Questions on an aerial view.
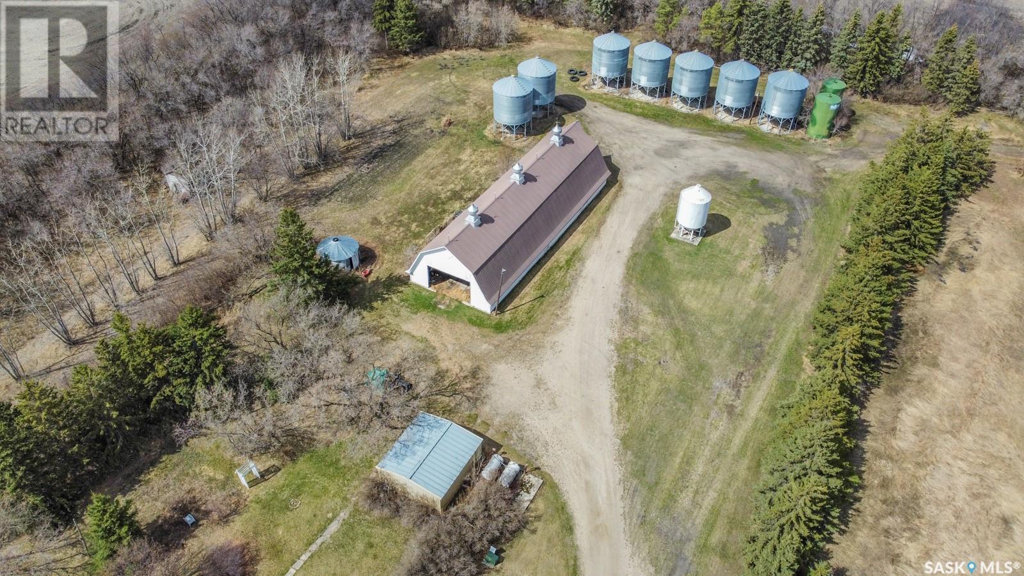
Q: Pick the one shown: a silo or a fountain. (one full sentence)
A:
The image shows a silo.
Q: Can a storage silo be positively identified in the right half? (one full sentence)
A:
Yes, a storage silo appears in the right half.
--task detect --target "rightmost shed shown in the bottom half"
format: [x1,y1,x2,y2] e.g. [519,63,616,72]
[376,411,483,515]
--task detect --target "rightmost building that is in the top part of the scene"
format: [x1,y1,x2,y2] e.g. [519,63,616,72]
[403,118,614,316]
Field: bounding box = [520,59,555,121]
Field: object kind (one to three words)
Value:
silo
